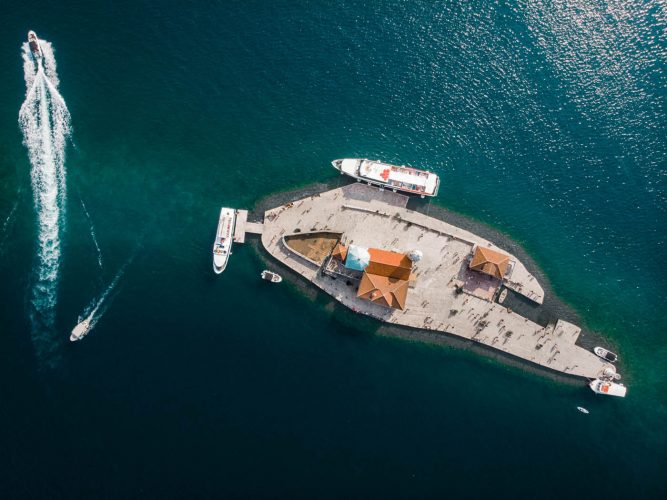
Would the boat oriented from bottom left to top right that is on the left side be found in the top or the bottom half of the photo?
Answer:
bottom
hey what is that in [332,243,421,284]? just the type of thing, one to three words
building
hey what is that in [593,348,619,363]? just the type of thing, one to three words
boat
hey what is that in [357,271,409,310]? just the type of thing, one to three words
house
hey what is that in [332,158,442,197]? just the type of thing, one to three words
ship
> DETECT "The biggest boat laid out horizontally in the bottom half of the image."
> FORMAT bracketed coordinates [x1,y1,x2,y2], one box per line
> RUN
[588,380,628,397]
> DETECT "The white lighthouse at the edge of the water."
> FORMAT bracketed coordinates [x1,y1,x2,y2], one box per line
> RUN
[604,366,622,379]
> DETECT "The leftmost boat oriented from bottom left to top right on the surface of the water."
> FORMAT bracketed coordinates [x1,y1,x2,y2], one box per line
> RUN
[70,315,94,341]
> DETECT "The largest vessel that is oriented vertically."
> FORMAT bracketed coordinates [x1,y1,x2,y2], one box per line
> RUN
[214,207,236,274]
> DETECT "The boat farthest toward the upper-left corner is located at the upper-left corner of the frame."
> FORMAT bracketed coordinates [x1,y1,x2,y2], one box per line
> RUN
[31,31,46,61]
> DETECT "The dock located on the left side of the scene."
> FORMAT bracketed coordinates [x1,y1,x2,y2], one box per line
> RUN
[234,210,263,243]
